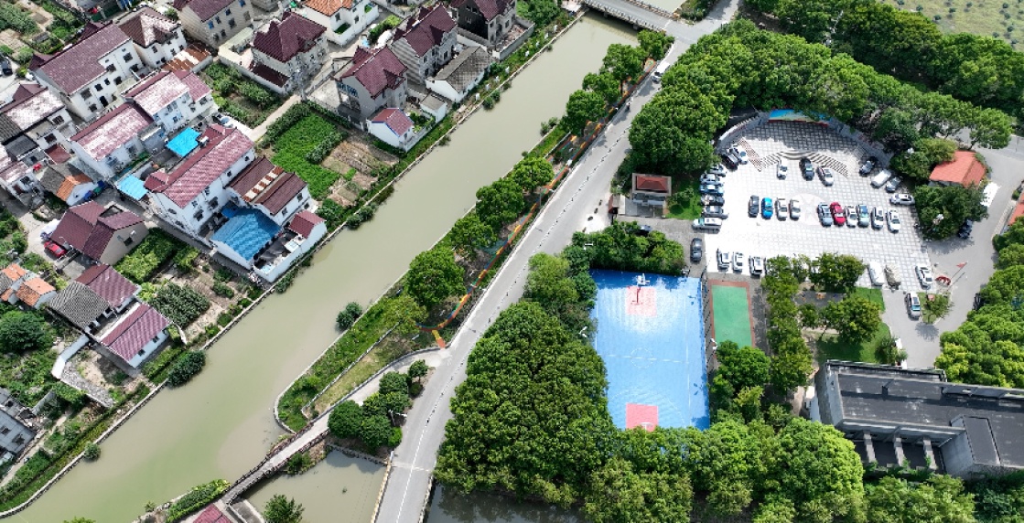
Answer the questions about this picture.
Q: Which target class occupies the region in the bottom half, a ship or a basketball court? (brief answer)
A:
basketball court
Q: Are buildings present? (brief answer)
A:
Yes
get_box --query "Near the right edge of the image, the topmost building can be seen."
[927,152,984,199]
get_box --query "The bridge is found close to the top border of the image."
[582,0,685,34]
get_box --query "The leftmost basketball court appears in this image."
[580,265,717,465]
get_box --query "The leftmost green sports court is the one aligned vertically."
[709,279,757,388]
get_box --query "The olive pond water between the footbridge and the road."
[256,450,387,523]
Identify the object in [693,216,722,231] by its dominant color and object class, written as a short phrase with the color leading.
white vehicle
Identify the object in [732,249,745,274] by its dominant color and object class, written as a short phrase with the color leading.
white vehicle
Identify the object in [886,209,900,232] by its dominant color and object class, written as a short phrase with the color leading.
white car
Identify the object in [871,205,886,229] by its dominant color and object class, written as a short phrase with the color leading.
white car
